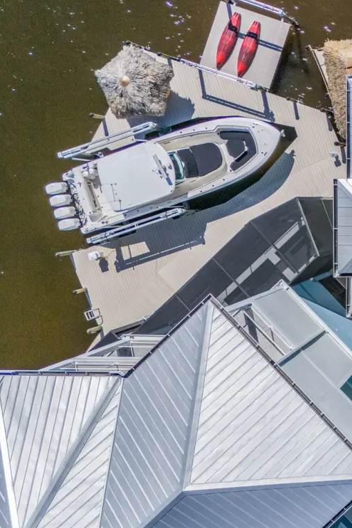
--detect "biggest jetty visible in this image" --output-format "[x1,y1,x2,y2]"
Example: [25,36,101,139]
[53,36,344,342]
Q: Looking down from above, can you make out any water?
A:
Yes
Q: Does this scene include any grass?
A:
No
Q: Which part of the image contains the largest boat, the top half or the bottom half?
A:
top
